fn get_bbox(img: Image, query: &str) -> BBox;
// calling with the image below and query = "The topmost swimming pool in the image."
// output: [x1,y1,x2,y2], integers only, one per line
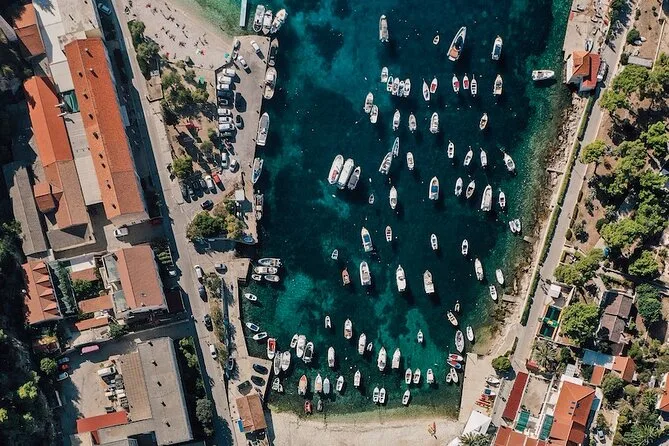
[581,349,610,366]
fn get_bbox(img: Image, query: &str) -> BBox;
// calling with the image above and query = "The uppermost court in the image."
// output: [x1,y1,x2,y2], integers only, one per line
[540,304,568,343]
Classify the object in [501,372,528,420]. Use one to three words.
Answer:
shed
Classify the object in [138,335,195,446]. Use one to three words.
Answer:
building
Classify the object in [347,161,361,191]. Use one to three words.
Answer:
boat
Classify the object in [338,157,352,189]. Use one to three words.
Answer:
boat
